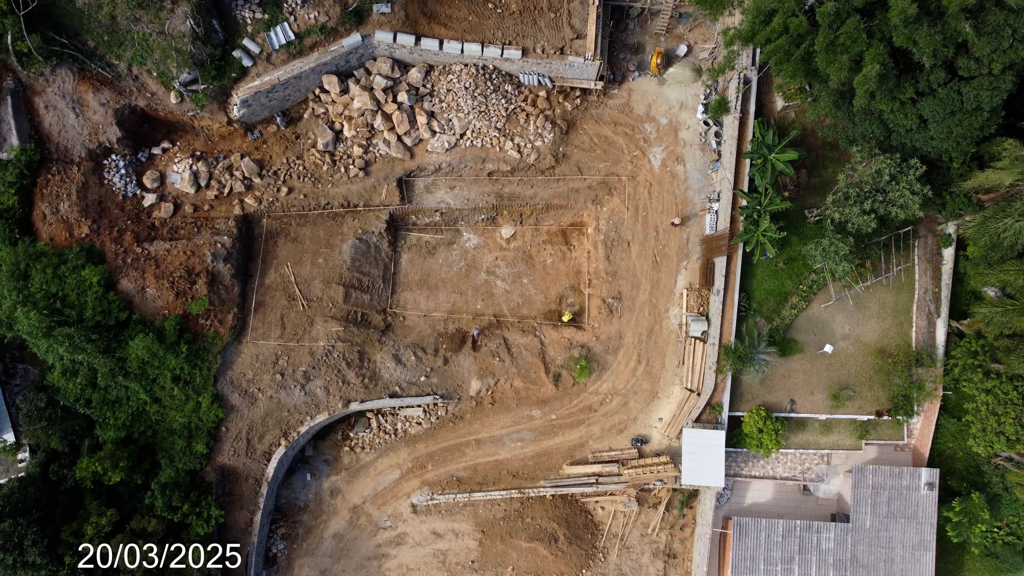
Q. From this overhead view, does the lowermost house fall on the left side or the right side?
right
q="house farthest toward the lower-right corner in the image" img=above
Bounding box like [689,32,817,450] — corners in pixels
[718,458,940,576]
